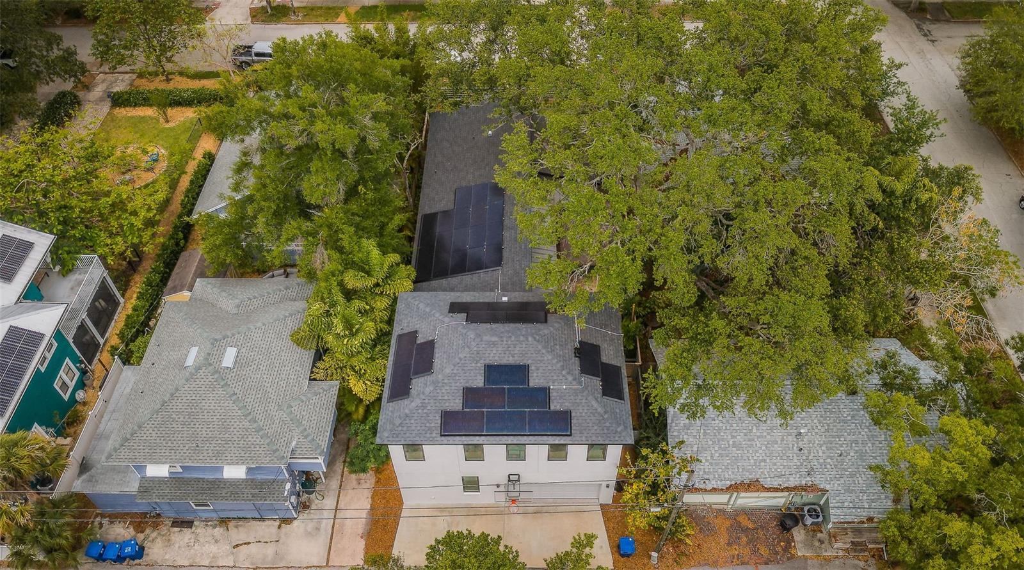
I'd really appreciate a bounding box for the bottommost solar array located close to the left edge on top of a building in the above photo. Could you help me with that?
[0,326,43,417]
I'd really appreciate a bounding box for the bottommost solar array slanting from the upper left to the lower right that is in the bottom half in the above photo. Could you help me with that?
[579,341,623,401]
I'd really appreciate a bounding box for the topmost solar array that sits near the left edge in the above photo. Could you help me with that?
[0,234,31,281]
